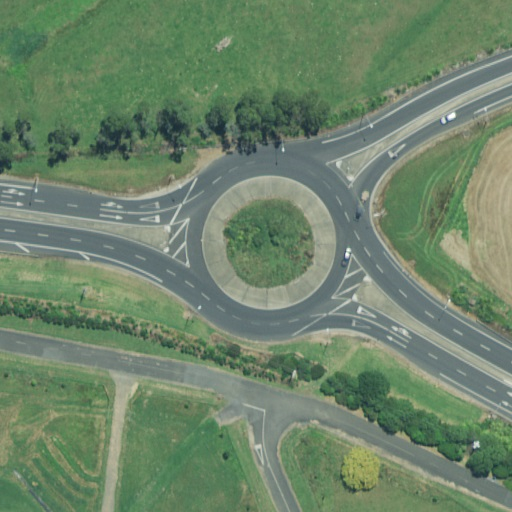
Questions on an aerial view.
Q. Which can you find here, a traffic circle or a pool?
traffic circle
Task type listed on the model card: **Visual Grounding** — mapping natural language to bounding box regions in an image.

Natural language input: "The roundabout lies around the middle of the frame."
[184,146,370,340]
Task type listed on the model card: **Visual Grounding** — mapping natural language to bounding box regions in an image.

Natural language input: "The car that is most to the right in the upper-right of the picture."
[440,112,457,124]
